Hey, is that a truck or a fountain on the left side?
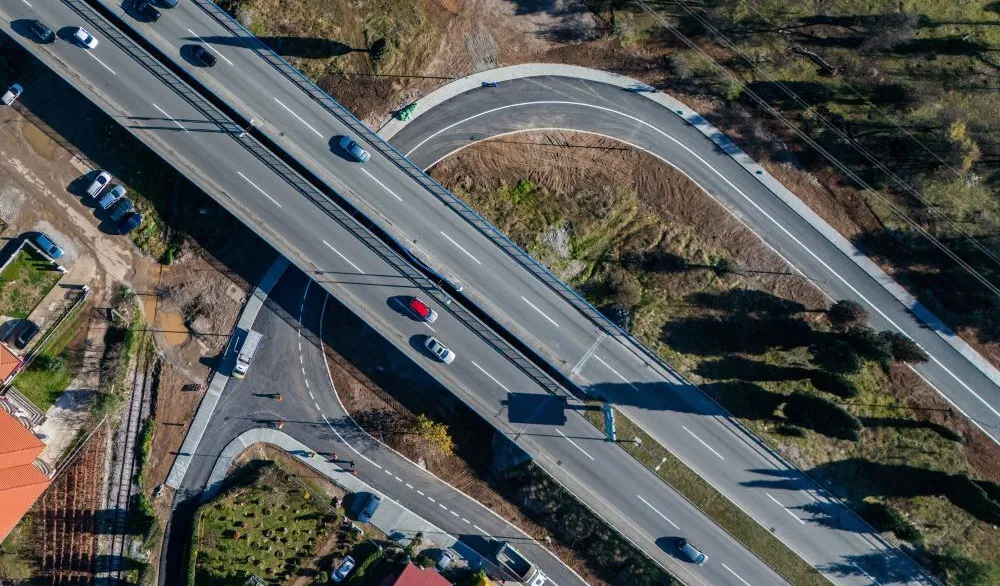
truck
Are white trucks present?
Yes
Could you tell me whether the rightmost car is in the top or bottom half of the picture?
bottom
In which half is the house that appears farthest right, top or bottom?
bottom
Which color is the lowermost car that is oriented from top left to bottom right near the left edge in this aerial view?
blue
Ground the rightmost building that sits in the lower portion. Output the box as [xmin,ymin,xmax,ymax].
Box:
[389,552,455,586]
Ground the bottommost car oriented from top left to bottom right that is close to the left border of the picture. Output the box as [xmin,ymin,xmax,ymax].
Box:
[32,231,67,261]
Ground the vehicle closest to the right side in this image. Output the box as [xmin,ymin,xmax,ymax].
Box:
[675,536,709,565]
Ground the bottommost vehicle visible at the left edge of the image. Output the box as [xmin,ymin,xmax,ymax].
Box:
[14,318,44,348]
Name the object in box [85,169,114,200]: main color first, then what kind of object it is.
white car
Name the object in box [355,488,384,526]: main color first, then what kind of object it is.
blue car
